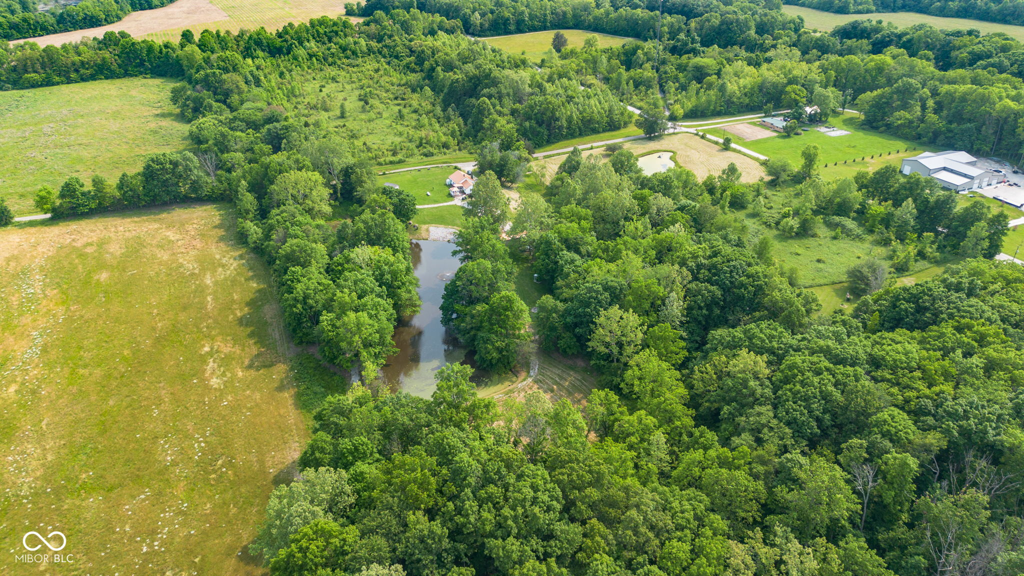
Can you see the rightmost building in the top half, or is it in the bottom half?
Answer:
top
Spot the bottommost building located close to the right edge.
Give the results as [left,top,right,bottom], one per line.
[900,149,1006,193]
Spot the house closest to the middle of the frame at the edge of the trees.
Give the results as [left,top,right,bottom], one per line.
[447,169,477,200]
